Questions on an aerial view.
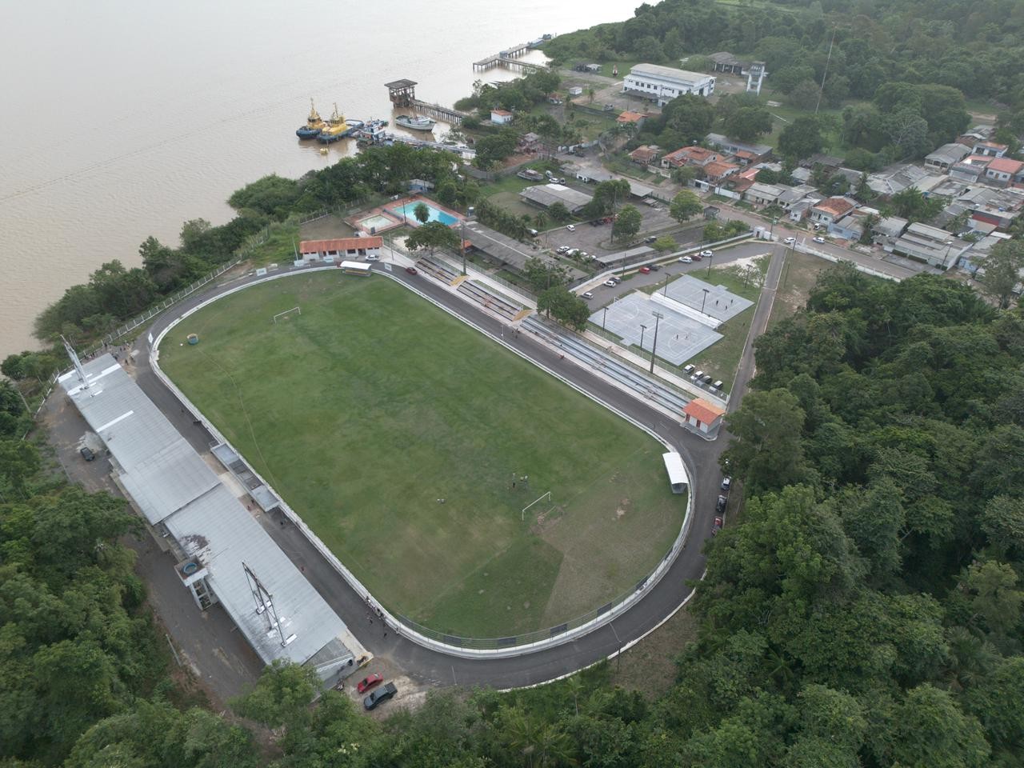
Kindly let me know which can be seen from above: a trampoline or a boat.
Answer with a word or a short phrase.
boat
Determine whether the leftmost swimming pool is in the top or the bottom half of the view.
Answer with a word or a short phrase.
top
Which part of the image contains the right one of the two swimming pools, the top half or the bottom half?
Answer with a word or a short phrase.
top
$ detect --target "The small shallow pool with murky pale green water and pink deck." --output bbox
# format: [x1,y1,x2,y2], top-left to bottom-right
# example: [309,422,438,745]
[346,210,404,234]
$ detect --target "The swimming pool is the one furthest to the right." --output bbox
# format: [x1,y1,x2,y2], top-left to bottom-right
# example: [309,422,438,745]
[383,195,467,235]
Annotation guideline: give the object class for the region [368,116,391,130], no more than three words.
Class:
boat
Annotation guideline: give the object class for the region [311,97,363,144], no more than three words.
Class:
boat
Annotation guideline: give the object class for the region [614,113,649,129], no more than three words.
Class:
house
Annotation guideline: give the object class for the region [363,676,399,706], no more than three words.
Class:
vehicle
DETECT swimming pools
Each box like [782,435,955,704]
[383,195,467,235]
[346,210,404,234]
